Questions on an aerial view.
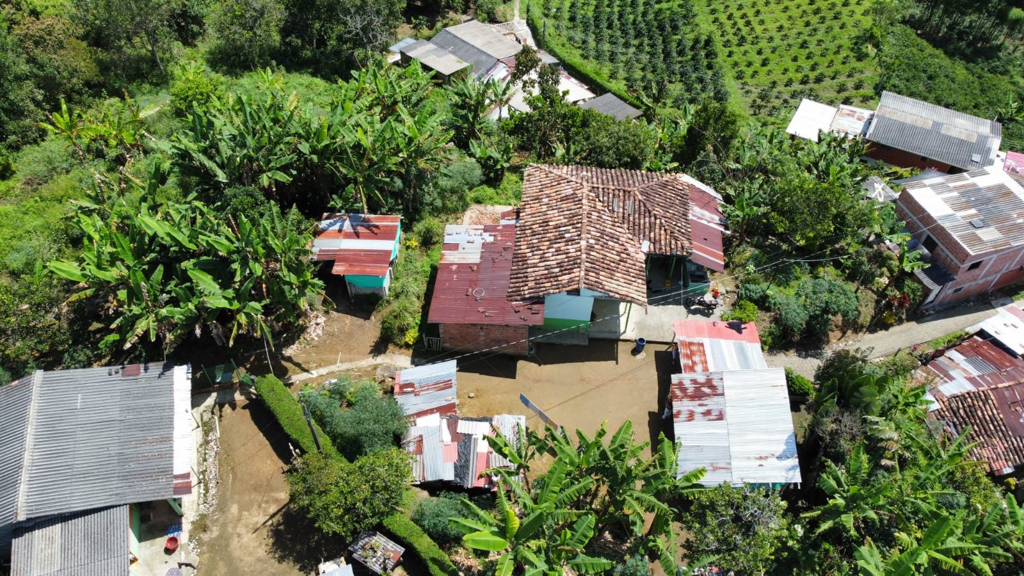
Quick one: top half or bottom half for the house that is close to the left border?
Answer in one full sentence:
Seen from above, the house that is close to the left border lies in the bottom half of the view.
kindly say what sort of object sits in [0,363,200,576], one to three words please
house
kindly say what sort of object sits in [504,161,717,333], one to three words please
house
